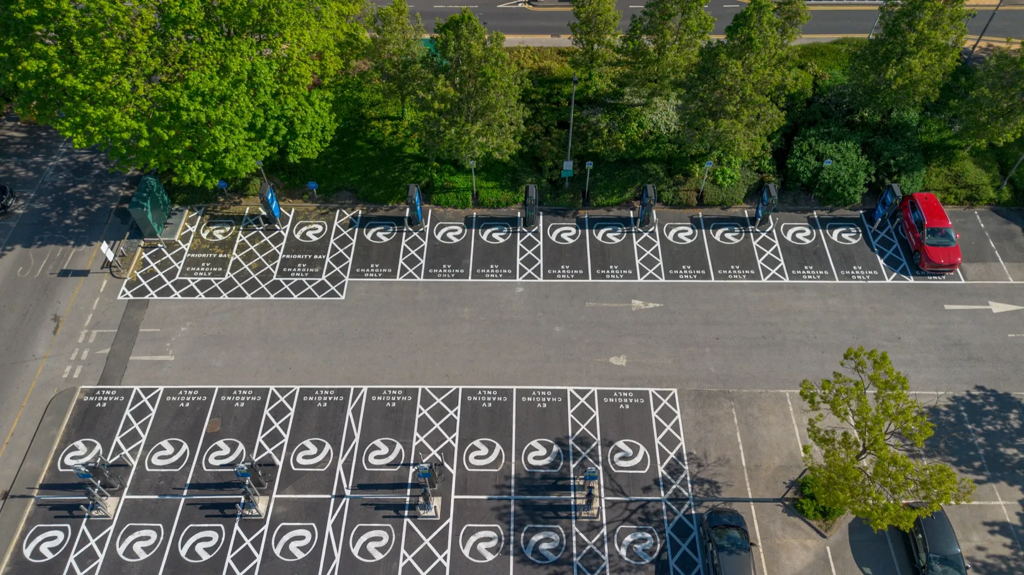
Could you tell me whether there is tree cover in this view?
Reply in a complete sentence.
Yes, the picture does contain tree cover.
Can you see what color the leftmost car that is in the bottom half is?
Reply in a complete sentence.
The leftmost car that is in the bottom half looks black in the image.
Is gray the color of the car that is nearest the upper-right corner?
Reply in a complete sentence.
No, the car that is nearest the upper-right corner is actually red.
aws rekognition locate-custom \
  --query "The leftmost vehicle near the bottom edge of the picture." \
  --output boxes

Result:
[700,504,762,575]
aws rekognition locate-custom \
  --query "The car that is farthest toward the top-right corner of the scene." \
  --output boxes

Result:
[896,196,960,274]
